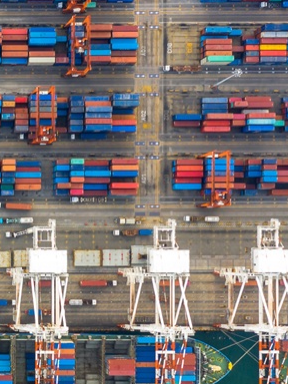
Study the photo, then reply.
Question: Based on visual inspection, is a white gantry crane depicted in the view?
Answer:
Yes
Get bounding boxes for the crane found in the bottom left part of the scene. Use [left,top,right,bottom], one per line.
[4,216,66,384]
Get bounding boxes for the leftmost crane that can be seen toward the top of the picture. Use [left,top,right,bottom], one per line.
[25,83,56,144]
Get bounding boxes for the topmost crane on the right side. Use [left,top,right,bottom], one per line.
[194,150,233,208]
